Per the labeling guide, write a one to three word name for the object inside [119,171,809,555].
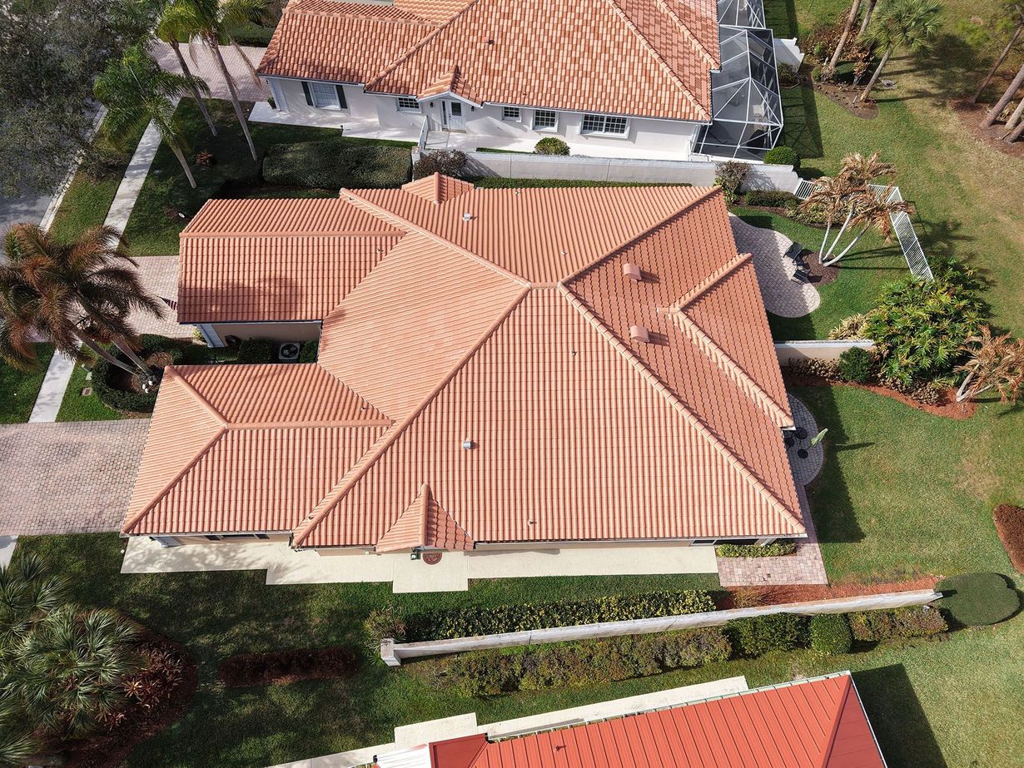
house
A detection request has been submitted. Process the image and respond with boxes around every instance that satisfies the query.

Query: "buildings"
[254,0,723,153]
[119,171,809,555]
[330,671,887,768]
